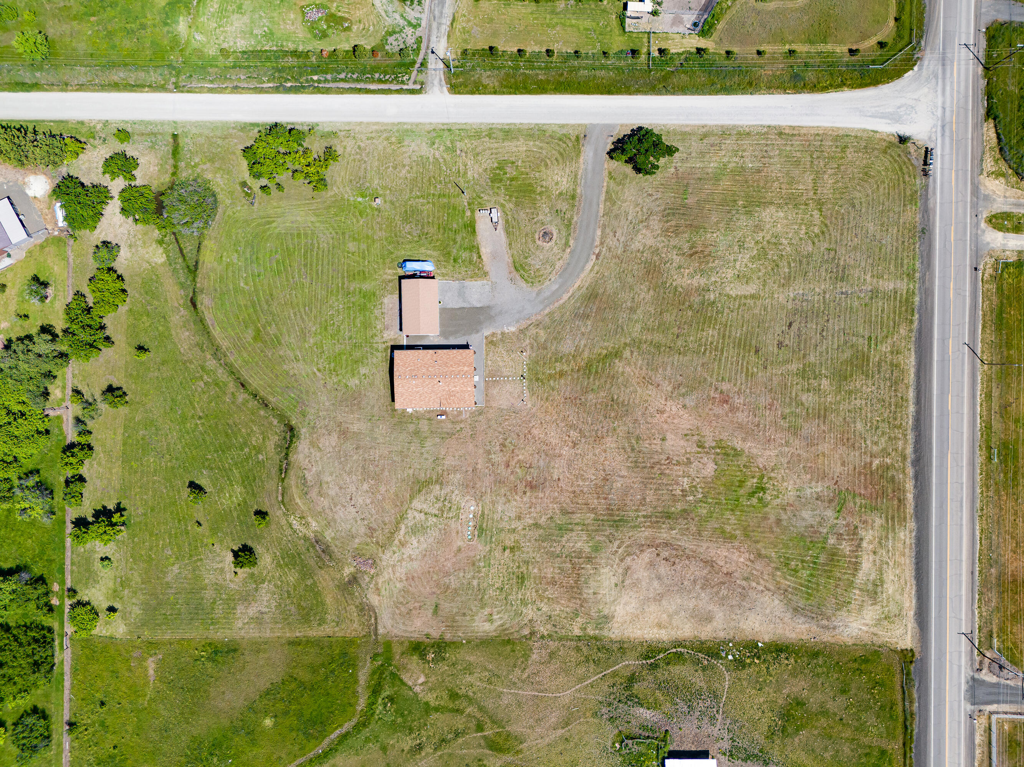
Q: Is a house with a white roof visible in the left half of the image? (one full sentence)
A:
Yes, I can see a house with a white roof in the left half of the image.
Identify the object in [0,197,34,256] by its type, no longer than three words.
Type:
house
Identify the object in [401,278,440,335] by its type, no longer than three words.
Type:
building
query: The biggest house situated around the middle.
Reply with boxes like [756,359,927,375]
[394,349,475,410]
